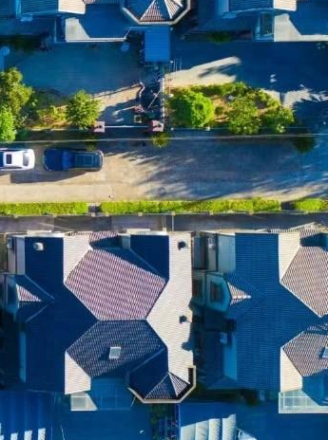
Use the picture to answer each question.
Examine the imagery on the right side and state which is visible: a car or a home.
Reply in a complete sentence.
What appears on the right side is a home.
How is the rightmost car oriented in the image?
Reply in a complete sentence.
In this picture, the rightmost car is oriented from side to side.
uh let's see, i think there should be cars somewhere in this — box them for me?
[0,148,34,170]
[40,145,102,173]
